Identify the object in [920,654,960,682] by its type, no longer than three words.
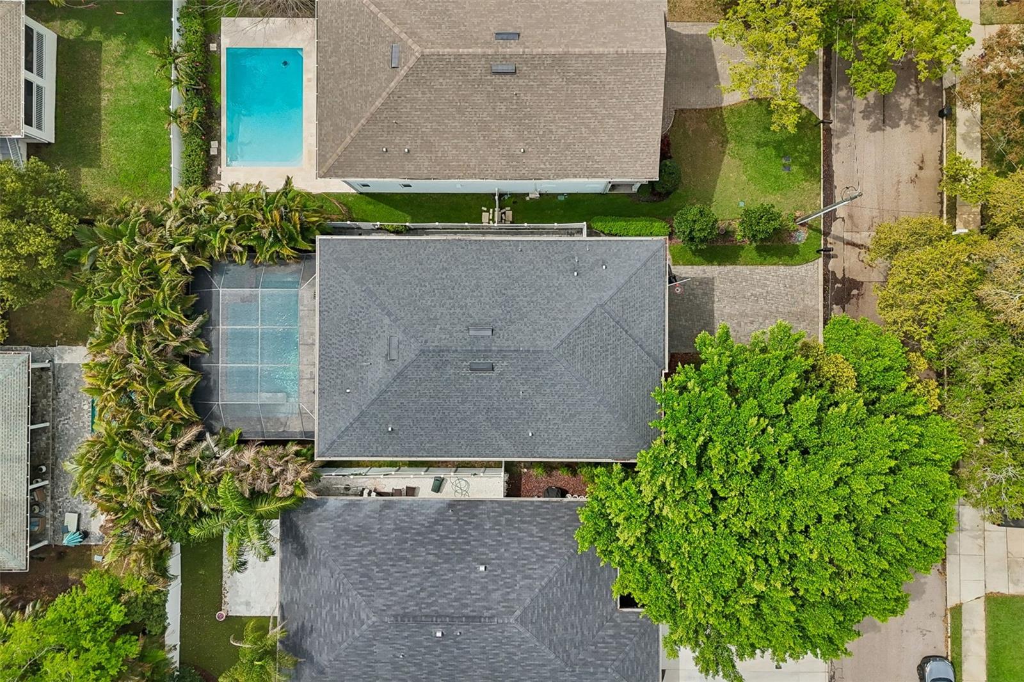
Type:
car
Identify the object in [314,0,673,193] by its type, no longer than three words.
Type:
house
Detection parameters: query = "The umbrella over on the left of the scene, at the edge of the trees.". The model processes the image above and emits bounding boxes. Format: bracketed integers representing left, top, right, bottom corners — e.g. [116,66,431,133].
[60,529,89,548]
